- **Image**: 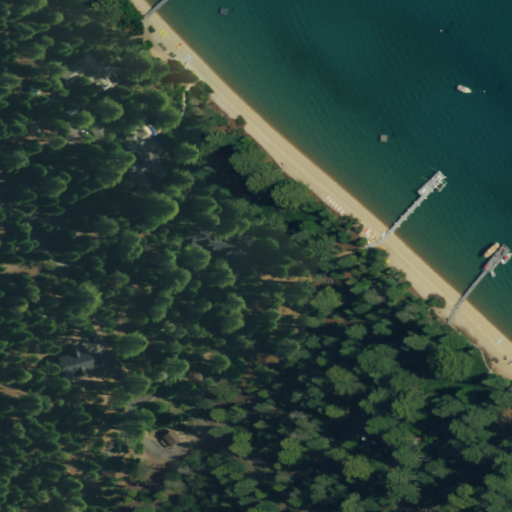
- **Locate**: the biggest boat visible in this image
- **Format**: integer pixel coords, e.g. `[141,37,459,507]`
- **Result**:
[482,244,499,259]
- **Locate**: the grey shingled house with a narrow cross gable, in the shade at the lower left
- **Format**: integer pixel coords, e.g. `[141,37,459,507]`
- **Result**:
[60,350,94,376]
